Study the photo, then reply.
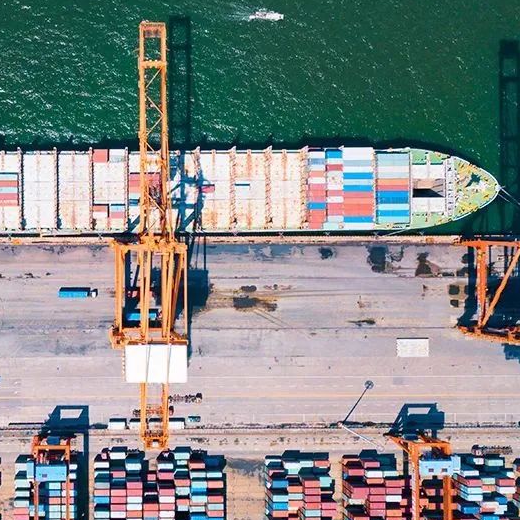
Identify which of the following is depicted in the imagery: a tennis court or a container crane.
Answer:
container crane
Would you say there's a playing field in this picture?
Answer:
No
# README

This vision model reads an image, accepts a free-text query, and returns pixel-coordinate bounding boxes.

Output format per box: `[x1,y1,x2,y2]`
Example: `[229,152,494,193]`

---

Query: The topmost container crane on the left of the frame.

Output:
[107,22,184,453]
